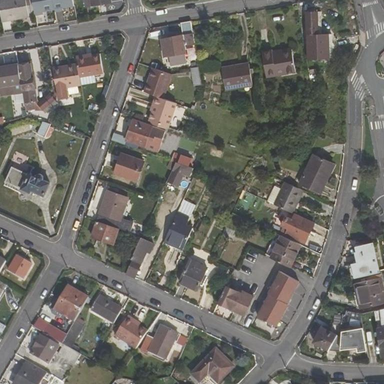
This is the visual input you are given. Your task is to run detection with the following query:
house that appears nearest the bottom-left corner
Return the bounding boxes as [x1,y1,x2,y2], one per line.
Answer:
[10,358,48,384]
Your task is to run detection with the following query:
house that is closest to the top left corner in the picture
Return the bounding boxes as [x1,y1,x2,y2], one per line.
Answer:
[0,0,28,22]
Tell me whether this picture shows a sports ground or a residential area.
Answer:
residential area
